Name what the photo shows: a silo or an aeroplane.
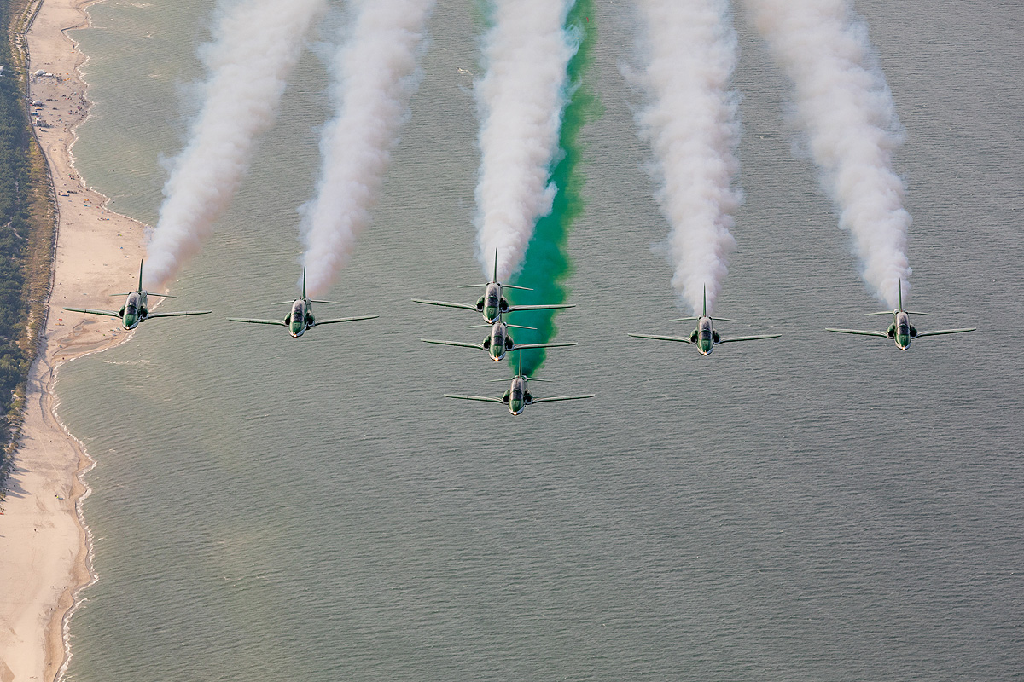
aeroplane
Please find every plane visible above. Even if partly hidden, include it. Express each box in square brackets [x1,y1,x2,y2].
[411,245,575,323]
[824,277,976,348]
[227,264,378,336]
[442,347,594,416]
[64,258,212,329]
[422,313,579,360]
[627,281,781,354]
